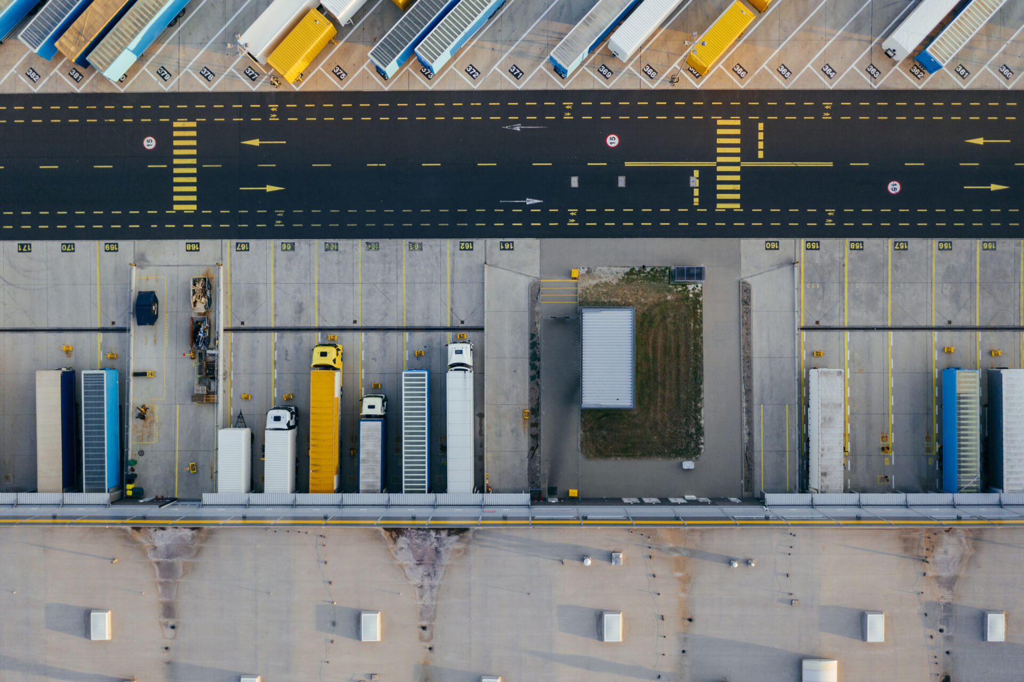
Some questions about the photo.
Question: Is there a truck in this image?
Yes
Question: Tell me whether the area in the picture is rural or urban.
urban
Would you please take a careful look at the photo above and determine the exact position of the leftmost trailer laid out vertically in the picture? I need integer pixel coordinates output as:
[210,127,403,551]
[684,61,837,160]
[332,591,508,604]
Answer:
[36,367,81,494]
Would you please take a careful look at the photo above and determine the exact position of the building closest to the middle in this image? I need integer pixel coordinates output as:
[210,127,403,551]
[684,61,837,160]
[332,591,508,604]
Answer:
[579,307,635,409]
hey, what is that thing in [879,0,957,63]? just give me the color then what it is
white trailer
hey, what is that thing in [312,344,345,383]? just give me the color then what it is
yellow truck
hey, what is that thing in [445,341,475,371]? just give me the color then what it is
white truck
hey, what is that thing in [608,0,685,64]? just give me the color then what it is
white trailer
